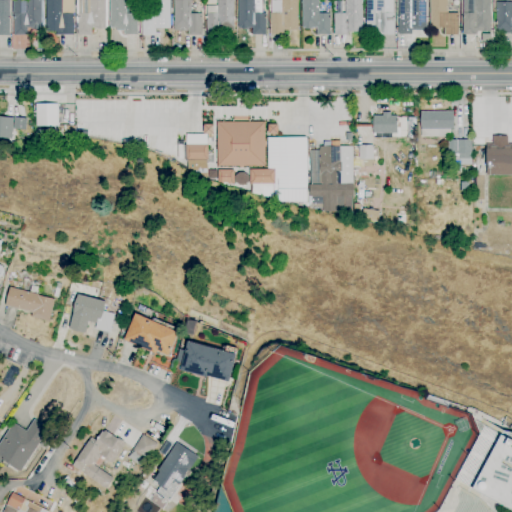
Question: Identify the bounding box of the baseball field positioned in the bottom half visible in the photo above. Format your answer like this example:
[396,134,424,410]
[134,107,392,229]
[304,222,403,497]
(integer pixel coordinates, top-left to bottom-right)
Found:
[224,347,478,512]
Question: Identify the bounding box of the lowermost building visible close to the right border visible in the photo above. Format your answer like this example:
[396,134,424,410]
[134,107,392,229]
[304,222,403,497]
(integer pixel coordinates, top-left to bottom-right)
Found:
[472,434,512,508]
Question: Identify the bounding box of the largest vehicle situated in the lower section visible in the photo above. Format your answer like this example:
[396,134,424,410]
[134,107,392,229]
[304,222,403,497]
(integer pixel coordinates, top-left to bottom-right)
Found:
[210,414,236,428]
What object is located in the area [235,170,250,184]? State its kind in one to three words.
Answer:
gazebo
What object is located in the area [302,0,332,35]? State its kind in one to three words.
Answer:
building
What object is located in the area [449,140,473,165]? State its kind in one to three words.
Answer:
house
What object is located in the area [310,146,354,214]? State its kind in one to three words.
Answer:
building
